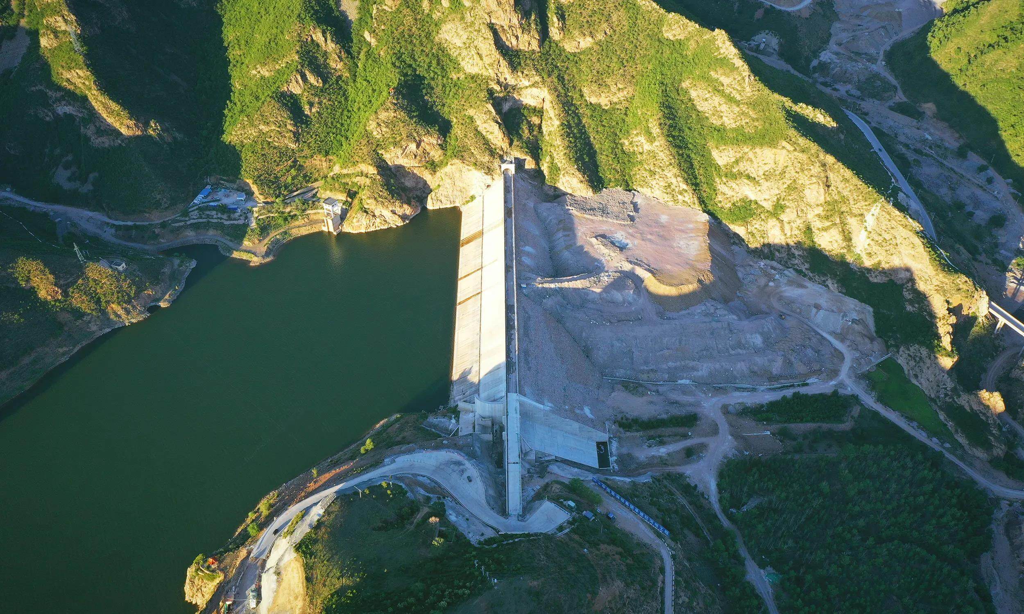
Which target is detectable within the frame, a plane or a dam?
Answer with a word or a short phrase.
dam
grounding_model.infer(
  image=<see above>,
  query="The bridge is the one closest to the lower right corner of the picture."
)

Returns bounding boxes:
[982,302,1024,363]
